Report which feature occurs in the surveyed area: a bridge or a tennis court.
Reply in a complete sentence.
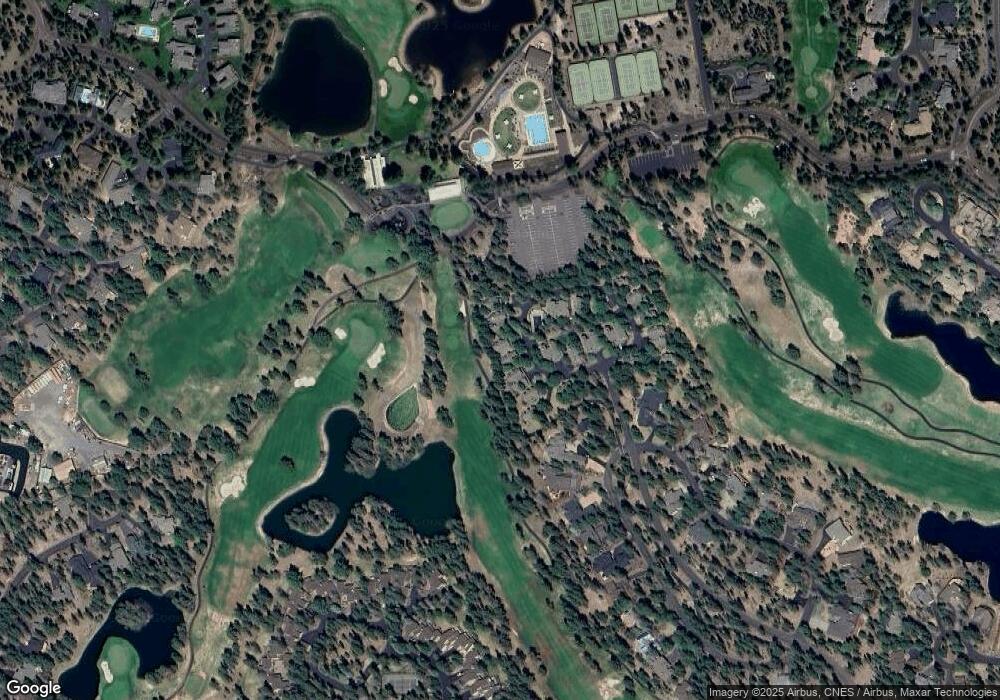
There is a tennis court in the scene.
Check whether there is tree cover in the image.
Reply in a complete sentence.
Yes, tree cover can be seen from above here.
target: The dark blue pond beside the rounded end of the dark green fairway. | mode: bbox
[886,292,1000,401]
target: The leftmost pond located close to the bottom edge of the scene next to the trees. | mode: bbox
[58,587,185,700]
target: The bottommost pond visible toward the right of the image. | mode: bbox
[916,510,1000,602]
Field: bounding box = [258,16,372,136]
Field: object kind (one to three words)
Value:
pond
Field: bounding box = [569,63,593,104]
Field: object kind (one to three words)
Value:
tennis court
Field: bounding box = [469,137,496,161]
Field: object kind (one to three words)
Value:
swimming pool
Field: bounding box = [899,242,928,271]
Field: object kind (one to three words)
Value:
house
